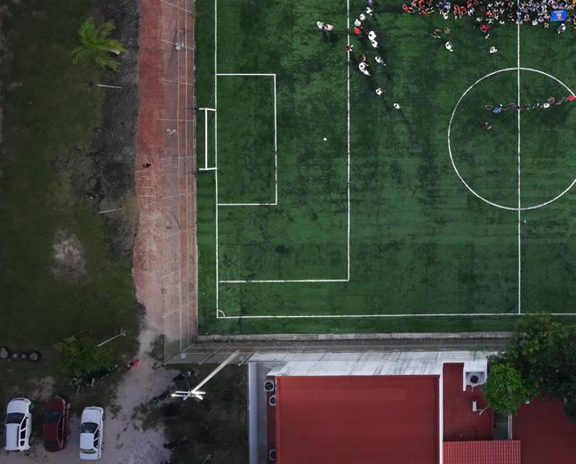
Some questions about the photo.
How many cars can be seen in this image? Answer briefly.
3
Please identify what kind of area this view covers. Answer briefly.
sports ground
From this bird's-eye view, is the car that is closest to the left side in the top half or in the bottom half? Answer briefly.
bottom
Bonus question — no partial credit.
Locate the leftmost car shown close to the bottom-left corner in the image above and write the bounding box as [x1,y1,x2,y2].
[2,398,34,454]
